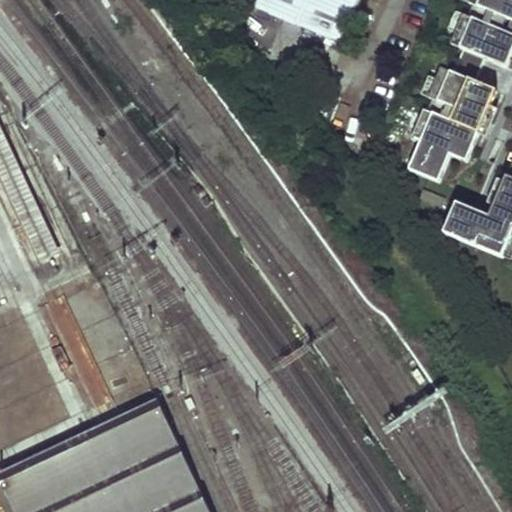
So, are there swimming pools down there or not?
No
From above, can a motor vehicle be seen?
Yes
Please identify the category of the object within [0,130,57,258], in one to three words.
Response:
shed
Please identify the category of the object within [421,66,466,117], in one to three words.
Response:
house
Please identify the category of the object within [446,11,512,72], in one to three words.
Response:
house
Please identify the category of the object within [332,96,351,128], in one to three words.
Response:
vehicle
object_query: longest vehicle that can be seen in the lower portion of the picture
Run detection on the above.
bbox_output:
[49,335,72,371]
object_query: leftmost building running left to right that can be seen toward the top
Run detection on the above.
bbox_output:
[255,0,356,44]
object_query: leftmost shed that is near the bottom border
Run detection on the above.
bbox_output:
[0,397,213,512]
